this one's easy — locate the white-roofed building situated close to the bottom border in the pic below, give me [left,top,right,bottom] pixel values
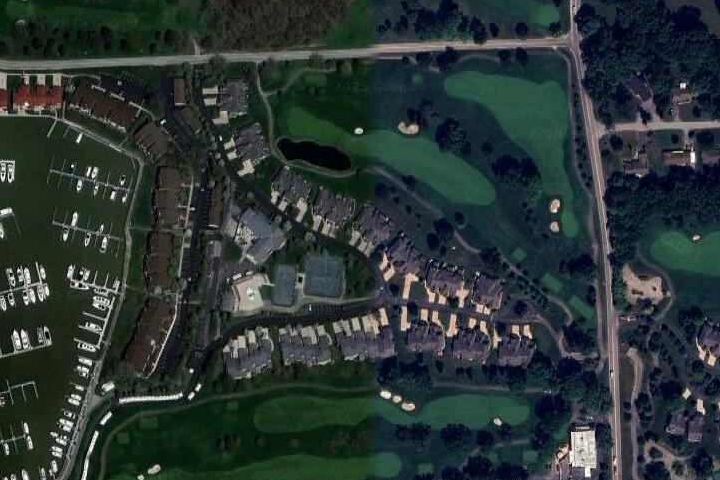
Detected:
[556,425,597,477]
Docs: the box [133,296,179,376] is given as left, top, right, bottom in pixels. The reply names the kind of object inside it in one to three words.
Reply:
building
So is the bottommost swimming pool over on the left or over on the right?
left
